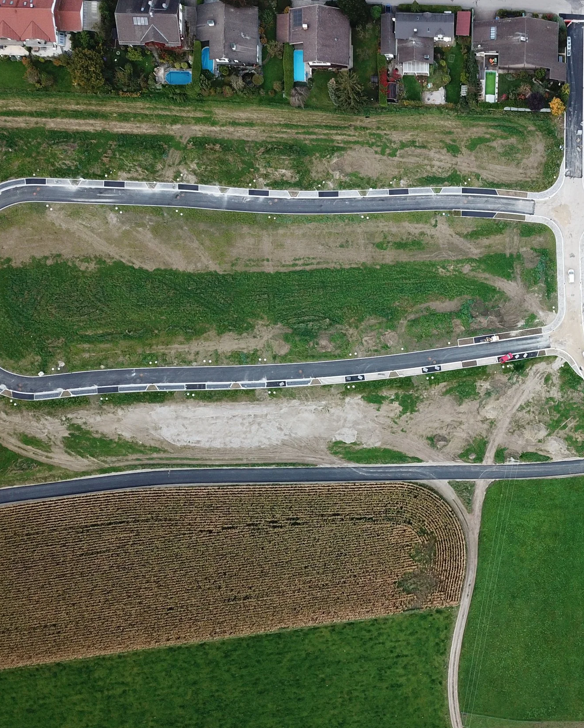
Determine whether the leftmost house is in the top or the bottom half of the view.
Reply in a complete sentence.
The leftmost house sits in the top half of the picture.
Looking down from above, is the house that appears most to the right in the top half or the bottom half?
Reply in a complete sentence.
The house that appears most to the right sits in the top half of the picture.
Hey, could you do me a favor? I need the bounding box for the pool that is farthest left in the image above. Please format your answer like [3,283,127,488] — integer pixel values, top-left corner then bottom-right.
[165,70,193,85]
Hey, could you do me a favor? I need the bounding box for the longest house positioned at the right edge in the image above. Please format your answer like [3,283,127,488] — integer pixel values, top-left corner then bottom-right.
[471,18,567,84]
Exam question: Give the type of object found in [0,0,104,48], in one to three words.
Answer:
house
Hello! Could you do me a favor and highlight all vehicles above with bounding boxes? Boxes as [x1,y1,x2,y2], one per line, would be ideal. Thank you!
[568,268,574,283]
[385,2,392,13]
[499,352,512,364]
[481,335,500,343]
